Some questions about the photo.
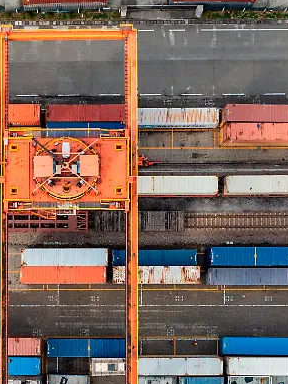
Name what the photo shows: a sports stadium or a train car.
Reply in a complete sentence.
The one in the frame is a train car.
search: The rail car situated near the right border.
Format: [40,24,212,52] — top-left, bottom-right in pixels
[218,177,288,195]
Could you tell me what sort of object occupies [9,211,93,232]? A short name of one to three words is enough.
rail car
